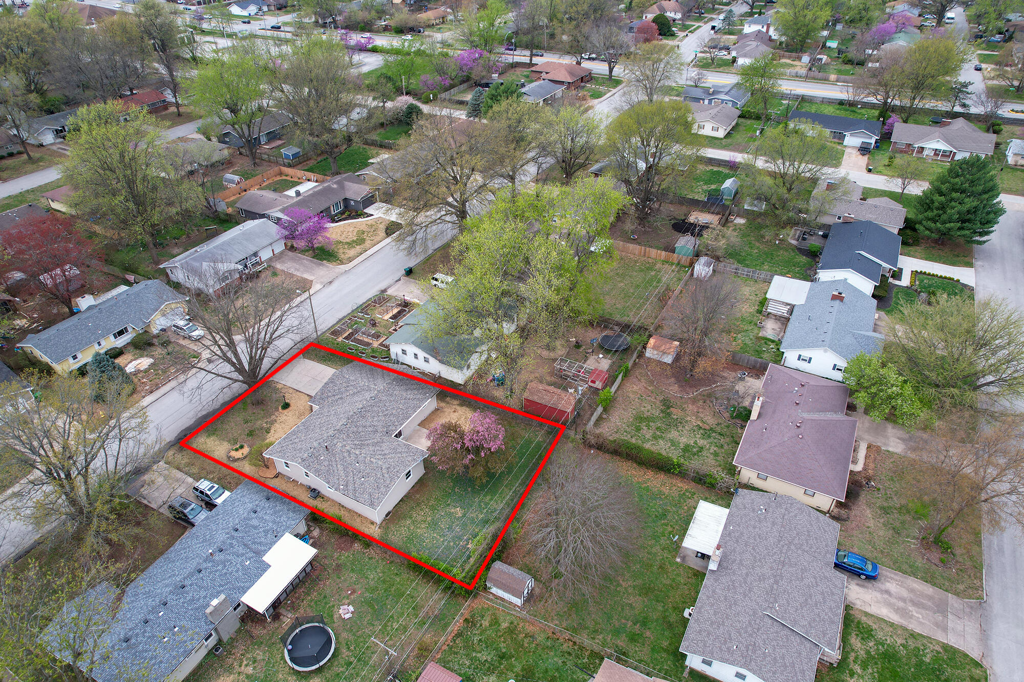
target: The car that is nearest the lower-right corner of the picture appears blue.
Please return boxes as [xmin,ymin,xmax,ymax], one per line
[841,549,887,586]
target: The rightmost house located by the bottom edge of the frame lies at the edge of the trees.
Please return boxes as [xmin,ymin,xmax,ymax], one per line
[678,481,848,682]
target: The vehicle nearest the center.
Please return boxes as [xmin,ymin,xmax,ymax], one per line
[429,271,457,288]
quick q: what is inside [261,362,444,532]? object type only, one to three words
house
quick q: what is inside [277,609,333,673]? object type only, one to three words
trampoline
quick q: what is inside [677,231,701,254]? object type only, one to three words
shed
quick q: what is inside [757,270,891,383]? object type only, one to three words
house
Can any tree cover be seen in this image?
Yes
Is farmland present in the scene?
No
